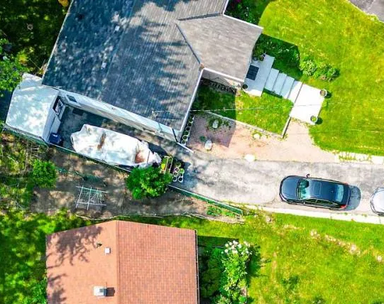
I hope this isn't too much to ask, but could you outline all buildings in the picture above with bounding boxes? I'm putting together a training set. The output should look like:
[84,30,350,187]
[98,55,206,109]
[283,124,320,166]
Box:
[40,0,264,141]
[44,224,200,304]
